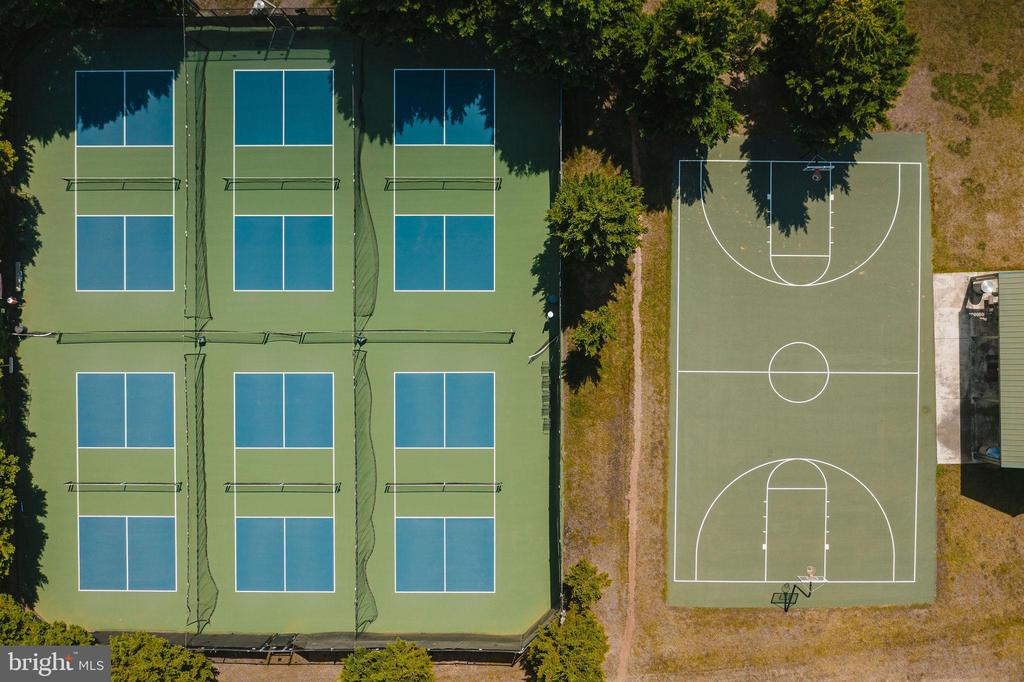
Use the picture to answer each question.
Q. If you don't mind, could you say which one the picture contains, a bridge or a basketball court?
basketball court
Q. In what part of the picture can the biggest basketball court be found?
right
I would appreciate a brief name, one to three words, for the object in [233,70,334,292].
sports court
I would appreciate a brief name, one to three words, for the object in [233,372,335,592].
sports court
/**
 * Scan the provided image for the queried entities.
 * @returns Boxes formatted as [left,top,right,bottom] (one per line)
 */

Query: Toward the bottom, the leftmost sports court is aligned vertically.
[76,372,177,592]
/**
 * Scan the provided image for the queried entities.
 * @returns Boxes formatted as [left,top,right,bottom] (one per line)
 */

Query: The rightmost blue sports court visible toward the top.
[394,69,495,292]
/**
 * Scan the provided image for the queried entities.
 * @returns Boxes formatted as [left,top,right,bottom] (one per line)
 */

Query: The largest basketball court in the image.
[666,133,937,608]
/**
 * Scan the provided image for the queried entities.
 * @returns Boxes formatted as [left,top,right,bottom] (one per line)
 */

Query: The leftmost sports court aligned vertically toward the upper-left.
[75,70,174,292]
